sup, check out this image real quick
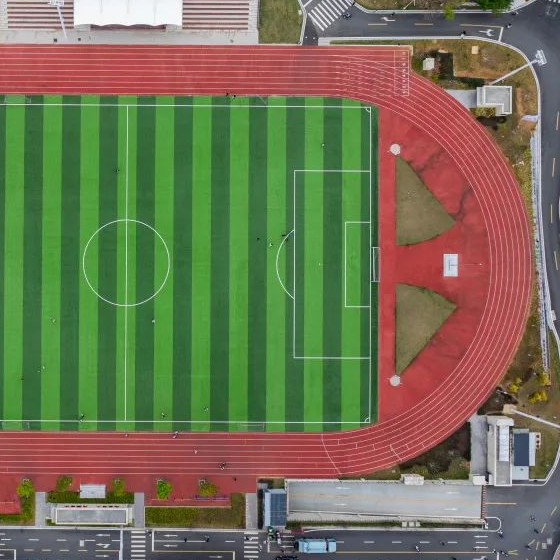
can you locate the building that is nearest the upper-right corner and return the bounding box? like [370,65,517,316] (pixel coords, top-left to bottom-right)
[474,86,513,117]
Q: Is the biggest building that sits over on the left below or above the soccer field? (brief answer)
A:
below it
